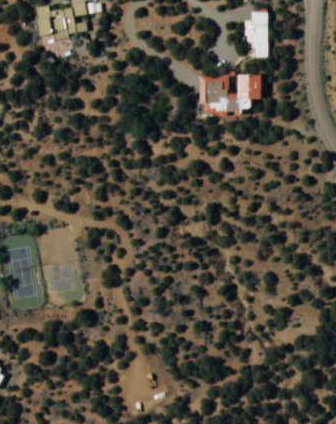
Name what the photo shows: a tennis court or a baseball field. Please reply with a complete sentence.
There is a tennis court in the scene.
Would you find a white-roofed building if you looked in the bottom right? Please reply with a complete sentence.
No, I can find no white-roofed building in the bottom right.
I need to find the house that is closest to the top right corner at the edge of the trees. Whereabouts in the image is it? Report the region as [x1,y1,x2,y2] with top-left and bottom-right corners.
[244,9,268,58]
